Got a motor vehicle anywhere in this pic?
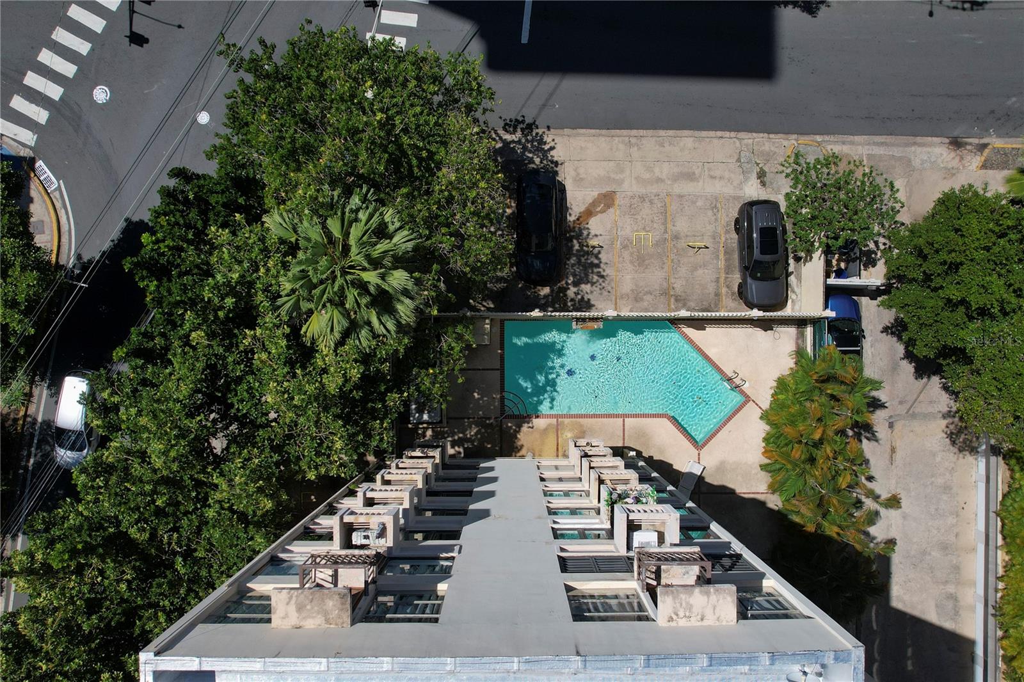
Yes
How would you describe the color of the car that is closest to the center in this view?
black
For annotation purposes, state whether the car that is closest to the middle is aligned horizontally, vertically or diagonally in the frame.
vertically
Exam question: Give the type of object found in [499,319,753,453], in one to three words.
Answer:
swimming pool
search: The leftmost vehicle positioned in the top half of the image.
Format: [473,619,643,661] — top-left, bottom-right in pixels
[516,173,567,283]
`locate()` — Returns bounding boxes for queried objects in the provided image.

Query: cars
[733,200,792,311]
[822,295,872,368]
[516,173,567,283]
[47,371,106,468]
